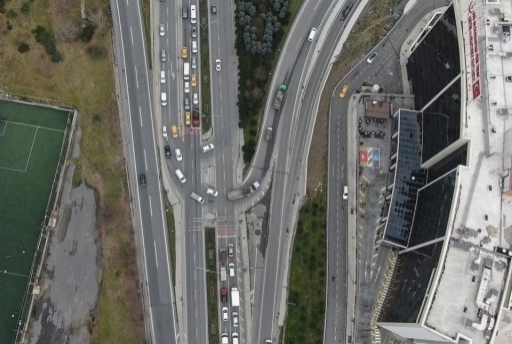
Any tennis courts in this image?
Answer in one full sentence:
No, I can't see a single tennis court in this photo.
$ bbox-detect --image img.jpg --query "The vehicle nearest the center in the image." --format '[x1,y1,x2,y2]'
[229,182,261,199]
